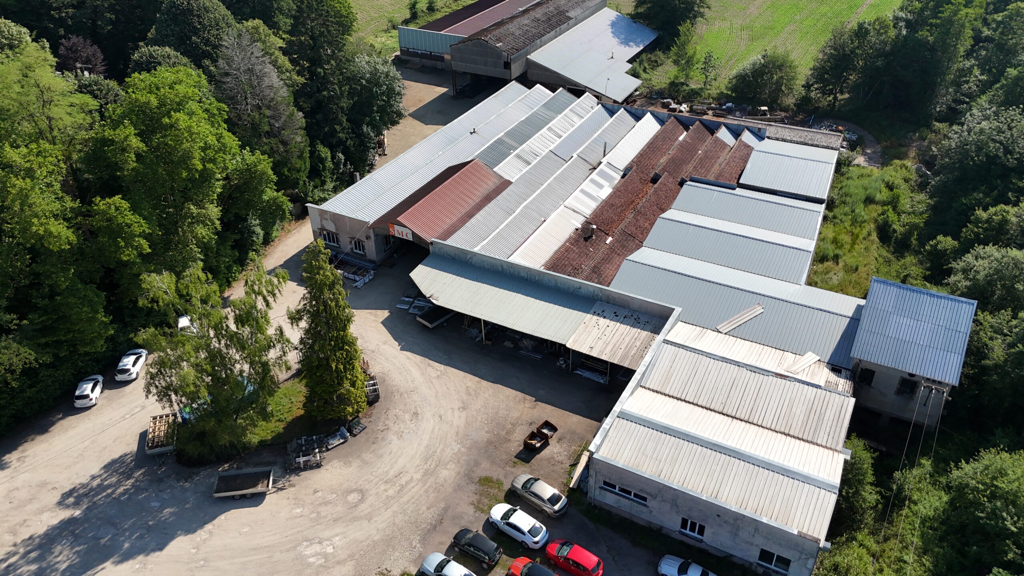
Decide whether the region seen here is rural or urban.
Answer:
urban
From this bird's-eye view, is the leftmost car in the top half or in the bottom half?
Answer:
bottom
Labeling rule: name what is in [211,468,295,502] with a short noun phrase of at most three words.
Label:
trailer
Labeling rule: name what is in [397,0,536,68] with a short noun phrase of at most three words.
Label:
shed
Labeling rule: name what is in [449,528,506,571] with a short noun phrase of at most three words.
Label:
car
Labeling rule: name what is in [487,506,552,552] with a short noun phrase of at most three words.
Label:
car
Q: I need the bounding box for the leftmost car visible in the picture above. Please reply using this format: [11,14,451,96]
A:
[70,377,108,411]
